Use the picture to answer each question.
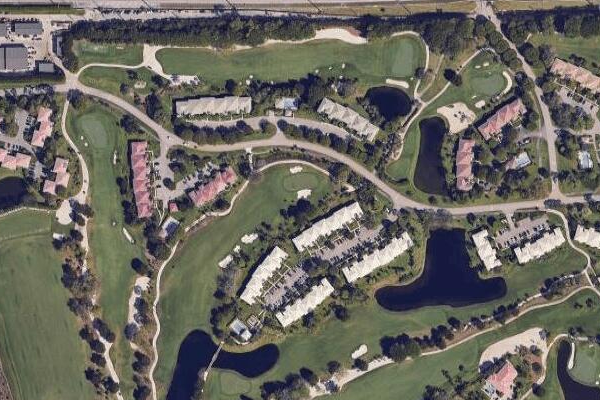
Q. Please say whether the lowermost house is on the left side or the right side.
right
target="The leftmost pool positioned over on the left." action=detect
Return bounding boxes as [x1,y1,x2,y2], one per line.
[159,214,182,238]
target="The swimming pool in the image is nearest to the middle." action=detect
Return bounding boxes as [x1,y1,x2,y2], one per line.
[282,98,298,110]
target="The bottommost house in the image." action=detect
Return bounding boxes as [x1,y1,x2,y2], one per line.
[485,360,523,398]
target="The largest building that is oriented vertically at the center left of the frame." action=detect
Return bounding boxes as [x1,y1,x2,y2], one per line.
[130,140,153,218]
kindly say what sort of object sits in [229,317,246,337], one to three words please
swimming pool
